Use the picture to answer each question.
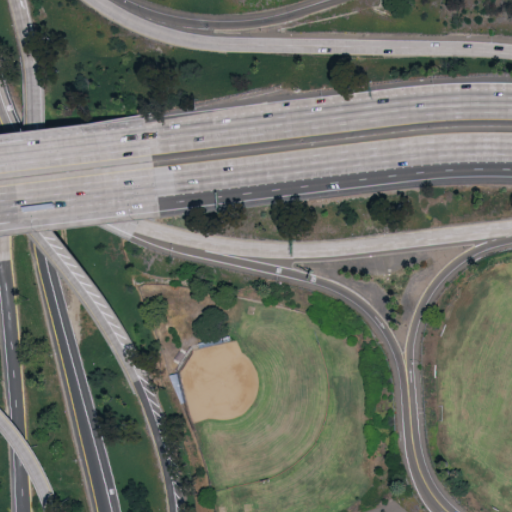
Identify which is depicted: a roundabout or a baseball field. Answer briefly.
baseball field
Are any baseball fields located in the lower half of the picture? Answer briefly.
Yes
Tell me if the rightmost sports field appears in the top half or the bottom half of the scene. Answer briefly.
bottom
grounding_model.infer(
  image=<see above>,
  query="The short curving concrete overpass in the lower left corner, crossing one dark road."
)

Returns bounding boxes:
[0,408,54,505]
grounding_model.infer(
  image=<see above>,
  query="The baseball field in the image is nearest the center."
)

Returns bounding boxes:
[178,302,328,490]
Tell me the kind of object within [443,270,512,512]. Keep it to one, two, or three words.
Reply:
sports field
